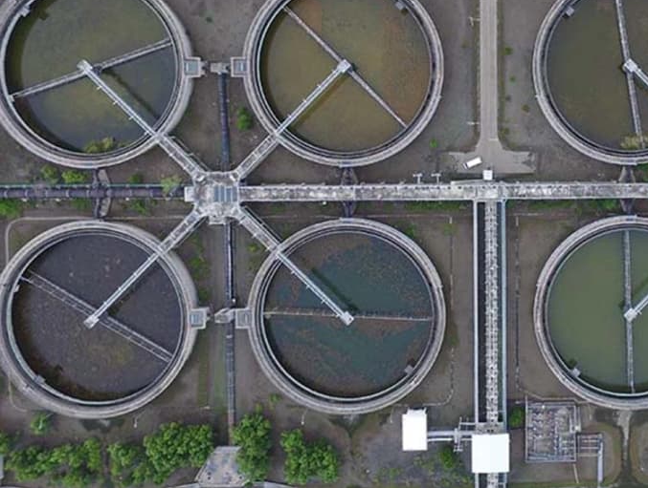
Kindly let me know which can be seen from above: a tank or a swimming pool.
tank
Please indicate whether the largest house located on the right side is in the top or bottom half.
bottom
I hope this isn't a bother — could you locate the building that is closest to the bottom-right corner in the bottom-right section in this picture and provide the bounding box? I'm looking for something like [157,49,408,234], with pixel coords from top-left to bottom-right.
[471,430,510,474]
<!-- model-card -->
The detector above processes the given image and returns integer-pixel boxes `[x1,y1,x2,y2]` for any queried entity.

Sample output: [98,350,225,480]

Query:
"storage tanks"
[230,0,442,163]
[535,0,648,161]
[233,219,444,412]
[0,0,204,165]
[0,221,210,416]
[535,217,648,407]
